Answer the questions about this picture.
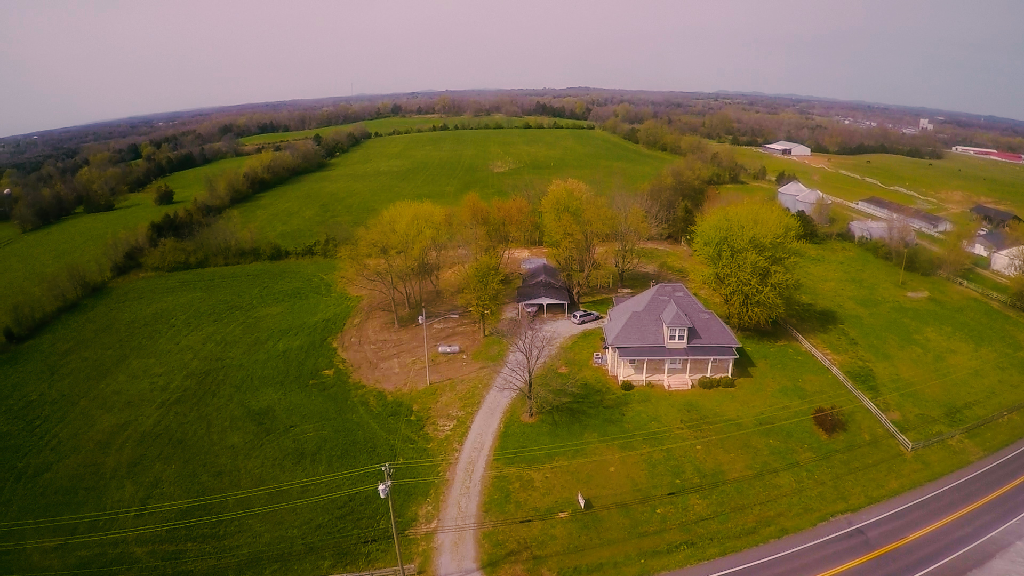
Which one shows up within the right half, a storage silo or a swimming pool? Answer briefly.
storage silo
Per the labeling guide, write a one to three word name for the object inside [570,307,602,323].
car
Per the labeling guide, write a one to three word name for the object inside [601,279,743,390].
house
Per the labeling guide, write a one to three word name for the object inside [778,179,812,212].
silo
